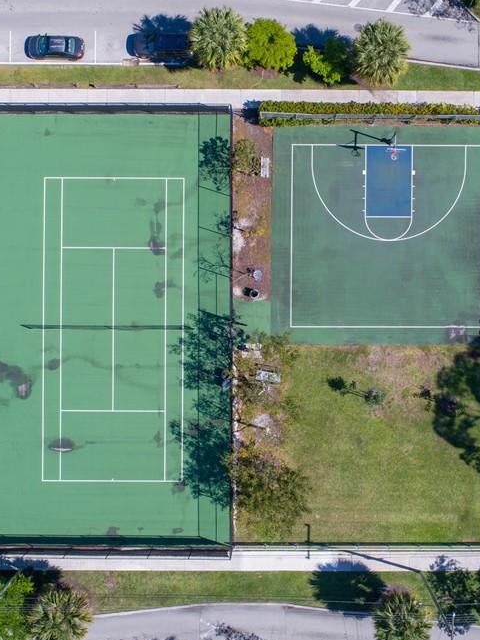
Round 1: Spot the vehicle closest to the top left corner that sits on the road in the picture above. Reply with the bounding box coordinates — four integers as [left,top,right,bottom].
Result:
[27,33,86,63]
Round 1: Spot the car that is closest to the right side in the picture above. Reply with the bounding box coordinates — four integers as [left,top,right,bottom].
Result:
[128,32,193,63]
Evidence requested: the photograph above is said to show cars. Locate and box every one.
[128,32,193,63]
[27,33,86,63]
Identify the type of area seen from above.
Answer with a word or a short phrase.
sports ground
